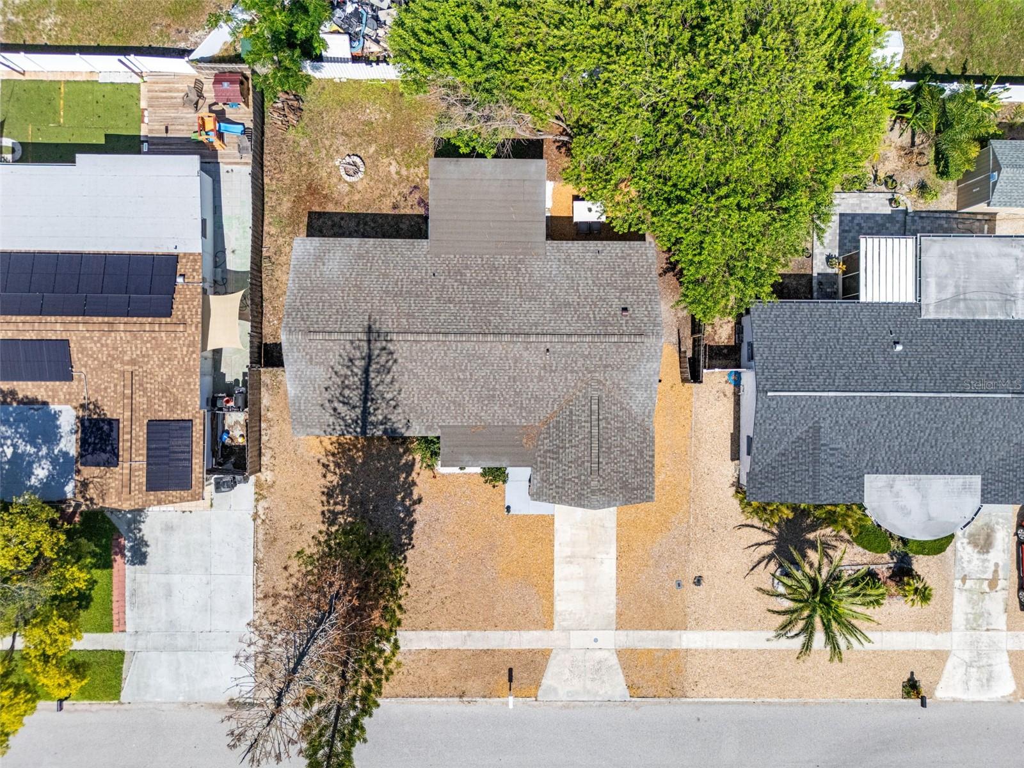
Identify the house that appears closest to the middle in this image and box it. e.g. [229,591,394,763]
[282,159,662,508]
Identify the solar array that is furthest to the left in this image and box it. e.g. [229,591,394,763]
[0,340,77,382]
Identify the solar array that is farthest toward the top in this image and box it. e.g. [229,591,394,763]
[0,254,177,315]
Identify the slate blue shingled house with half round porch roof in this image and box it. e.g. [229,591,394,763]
[743,234,1024,539]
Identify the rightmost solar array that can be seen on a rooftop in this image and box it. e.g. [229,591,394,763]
[143,421,193,492]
